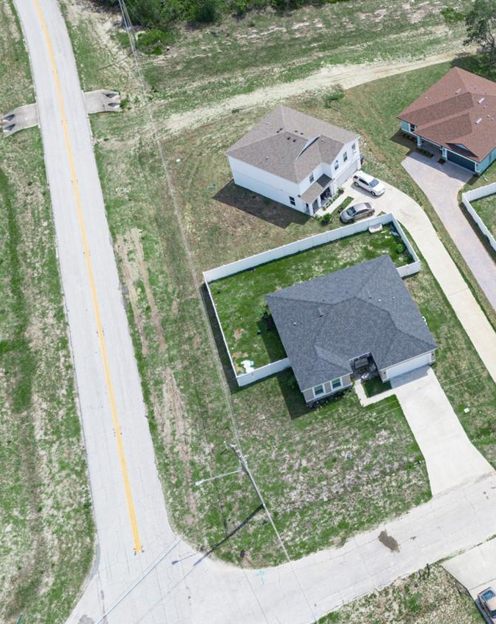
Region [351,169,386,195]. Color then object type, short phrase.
white car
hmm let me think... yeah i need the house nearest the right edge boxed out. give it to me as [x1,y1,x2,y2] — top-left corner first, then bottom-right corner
[397,68,496,176]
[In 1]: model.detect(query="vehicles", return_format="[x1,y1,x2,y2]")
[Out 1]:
[351,169,386,195]
[472,582,496,624]
[338,201,377,221]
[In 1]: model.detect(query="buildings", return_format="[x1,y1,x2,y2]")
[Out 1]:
[397,68,496,176]
[267,255,438,401]
[225,107,361,218]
